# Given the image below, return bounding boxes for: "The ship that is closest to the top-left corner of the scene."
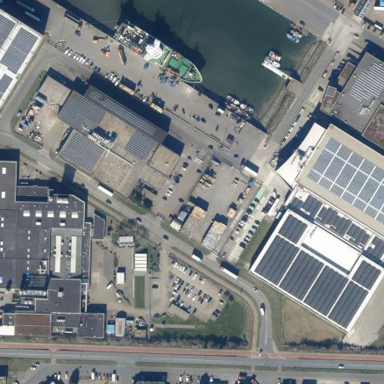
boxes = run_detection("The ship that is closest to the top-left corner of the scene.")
[115,20,203,80]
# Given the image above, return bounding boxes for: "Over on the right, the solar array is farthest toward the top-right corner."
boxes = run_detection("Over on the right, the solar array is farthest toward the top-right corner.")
[350,63,384,101]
